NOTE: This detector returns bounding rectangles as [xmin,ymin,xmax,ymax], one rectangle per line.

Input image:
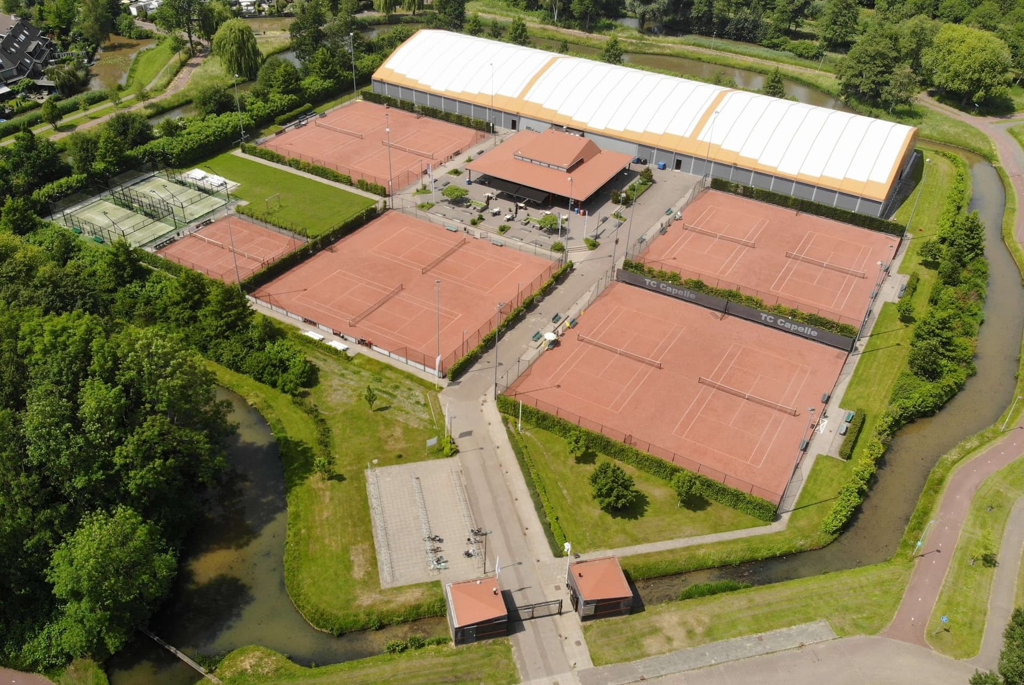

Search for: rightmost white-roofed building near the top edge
[370,29,921,217]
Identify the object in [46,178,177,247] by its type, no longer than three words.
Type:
sports court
